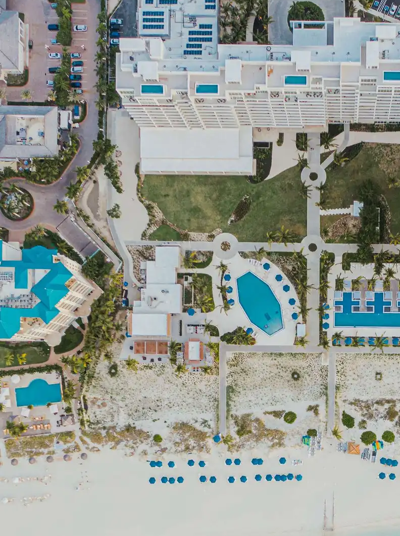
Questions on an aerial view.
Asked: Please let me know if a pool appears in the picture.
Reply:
Yes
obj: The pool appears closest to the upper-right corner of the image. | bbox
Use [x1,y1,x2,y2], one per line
[381,70,400,83]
